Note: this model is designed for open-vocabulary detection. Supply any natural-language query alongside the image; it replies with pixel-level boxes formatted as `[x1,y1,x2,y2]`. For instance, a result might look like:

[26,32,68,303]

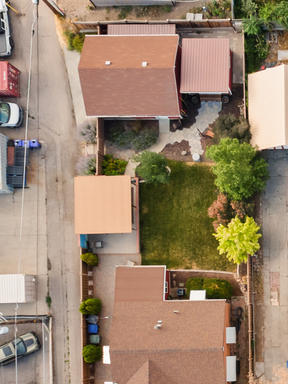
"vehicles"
[0,330,44,367]
[0,0,15,60]
[0,100,25,129]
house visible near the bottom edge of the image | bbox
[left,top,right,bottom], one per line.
[103,266,236,384]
